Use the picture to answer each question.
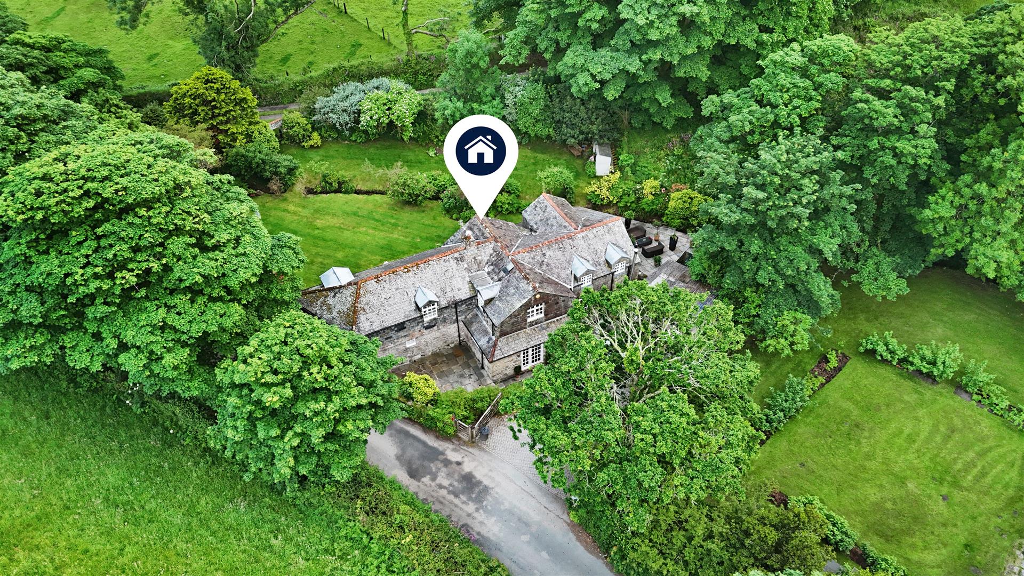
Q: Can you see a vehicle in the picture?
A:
No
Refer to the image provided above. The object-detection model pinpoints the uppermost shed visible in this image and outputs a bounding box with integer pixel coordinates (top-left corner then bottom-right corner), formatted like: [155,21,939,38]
[590,139,613,175]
